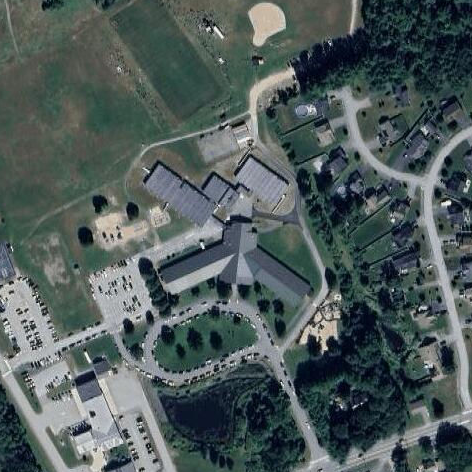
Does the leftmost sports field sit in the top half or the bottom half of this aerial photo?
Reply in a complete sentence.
You can find the leftmost sports field in the top half.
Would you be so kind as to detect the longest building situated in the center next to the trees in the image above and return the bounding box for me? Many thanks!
[158,222,312,309]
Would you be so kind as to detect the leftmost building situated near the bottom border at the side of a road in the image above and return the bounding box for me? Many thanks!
[72,362,122,458]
